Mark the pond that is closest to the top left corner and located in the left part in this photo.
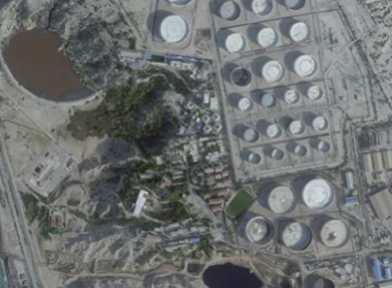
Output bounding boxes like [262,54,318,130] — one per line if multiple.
[3,30,89,101]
